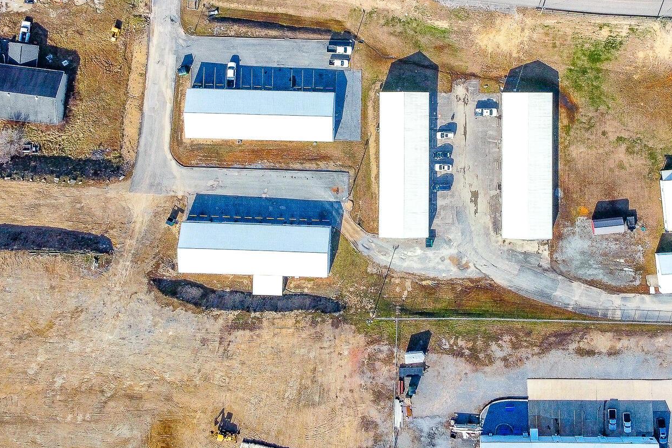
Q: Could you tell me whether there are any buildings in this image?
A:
Yes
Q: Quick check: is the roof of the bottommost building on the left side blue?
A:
No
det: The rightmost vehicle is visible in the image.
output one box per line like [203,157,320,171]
[656,416,668,442]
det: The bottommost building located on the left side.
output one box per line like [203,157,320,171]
[177,220,332,296]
